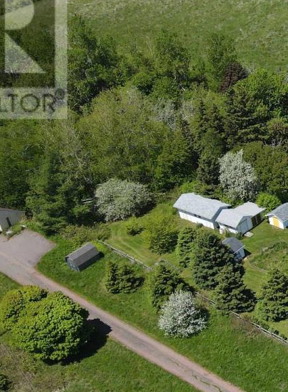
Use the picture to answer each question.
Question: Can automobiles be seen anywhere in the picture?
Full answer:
No, there is no automobile in the image.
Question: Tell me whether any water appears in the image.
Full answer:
No, no water is visible.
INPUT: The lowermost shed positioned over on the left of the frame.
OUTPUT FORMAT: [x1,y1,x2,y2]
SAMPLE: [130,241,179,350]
[64,242,108,272]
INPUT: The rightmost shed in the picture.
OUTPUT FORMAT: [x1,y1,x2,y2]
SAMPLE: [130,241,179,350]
[264,204,288,229]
